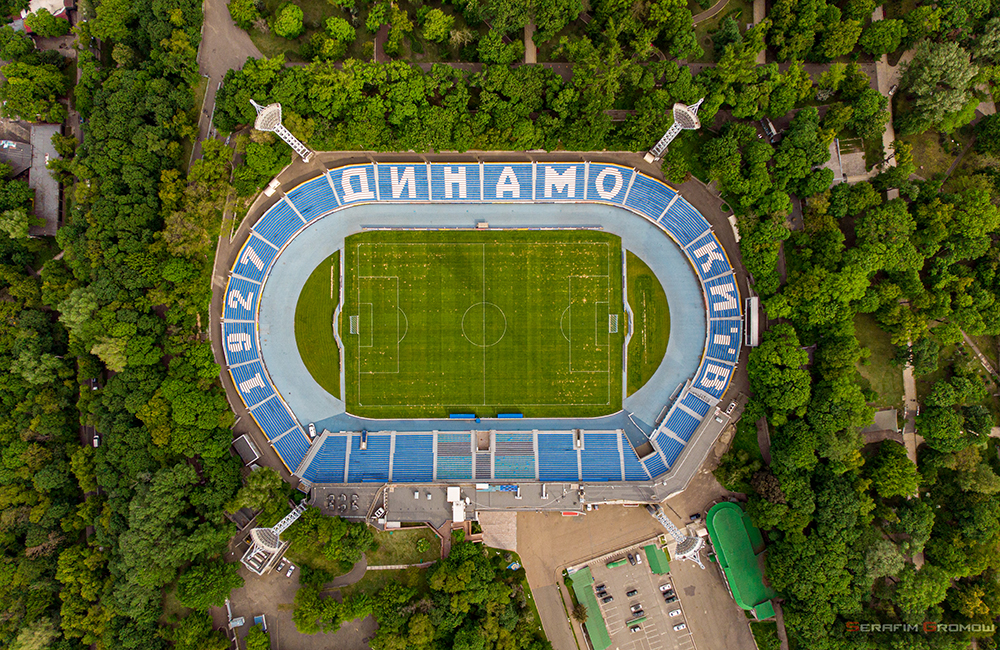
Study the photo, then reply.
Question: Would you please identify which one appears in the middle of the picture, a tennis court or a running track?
running track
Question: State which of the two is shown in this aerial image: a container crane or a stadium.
stadium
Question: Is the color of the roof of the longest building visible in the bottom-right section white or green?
green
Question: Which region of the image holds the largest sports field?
center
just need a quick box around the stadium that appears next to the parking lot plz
[218,158,745,565]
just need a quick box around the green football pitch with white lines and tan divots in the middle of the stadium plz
[345,229,623,418]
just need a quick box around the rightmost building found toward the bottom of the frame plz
[861,409,898,434]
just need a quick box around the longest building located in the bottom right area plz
[706,502,776,609]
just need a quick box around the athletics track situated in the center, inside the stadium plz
[260,204,705,458]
